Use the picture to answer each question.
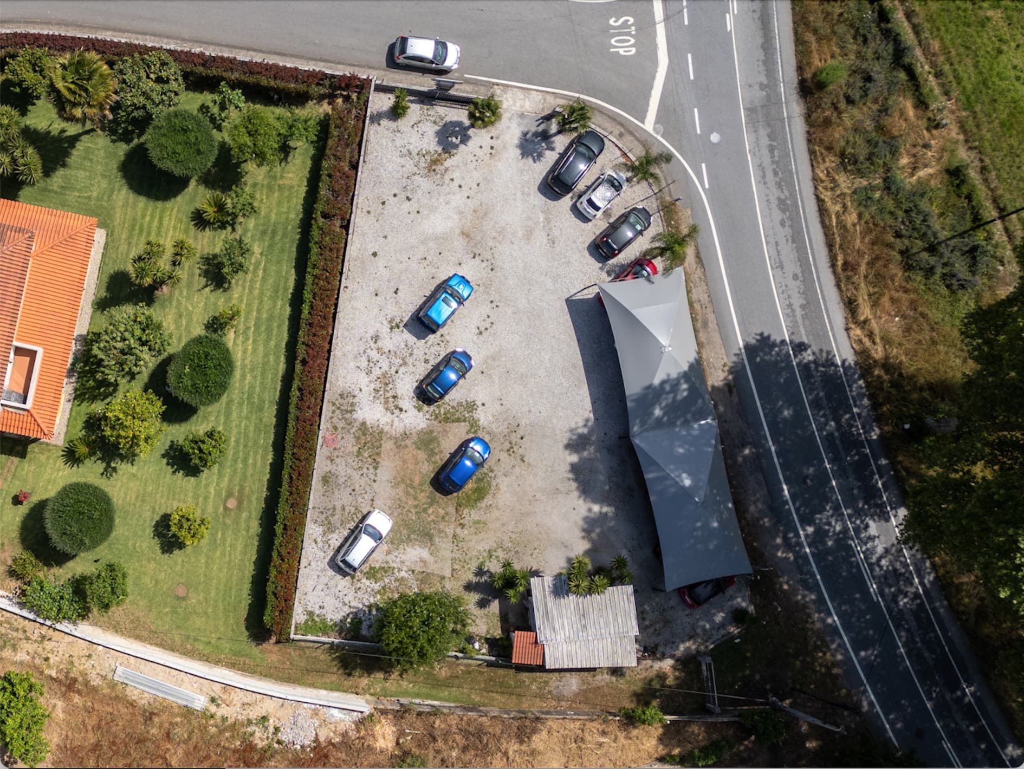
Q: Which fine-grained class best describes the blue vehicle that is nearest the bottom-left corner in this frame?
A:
car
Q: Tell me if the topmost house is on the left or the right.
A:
left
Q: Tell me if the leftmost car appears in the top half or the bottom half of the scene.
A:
bottom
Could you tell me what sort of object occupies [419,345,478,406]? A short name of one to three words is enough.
car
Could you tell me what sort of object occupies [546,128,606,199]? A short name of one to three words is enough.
car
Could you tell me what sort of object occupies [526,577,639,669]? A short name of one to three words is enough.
shed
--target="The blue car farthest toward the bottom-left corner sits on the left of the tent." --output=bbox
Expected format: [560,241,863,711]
[439,434,492,497]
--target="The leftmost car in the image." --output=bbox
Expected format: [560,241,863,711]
[332,504,396,578]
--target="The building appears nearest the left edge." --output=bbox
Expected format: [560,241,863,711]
[0,196,100,441]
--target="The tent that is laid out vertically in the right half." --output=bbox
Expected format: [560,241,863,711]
[577,260,753,600]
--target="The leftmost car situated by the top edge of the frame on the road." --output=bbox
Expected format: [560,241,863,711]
[394,35,461,74]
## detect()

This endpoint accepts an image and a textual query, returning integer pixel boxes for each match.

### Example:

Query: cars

[417,271,478,336]
[394,35,461,74]
[546,128,606,199]
[439,434,492,497]
[577,168,626,219]
[332,504,396,578]
[595,203,652,261]
[419,345,478,406]
[609,259,654,284]
[678,574,737,608]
